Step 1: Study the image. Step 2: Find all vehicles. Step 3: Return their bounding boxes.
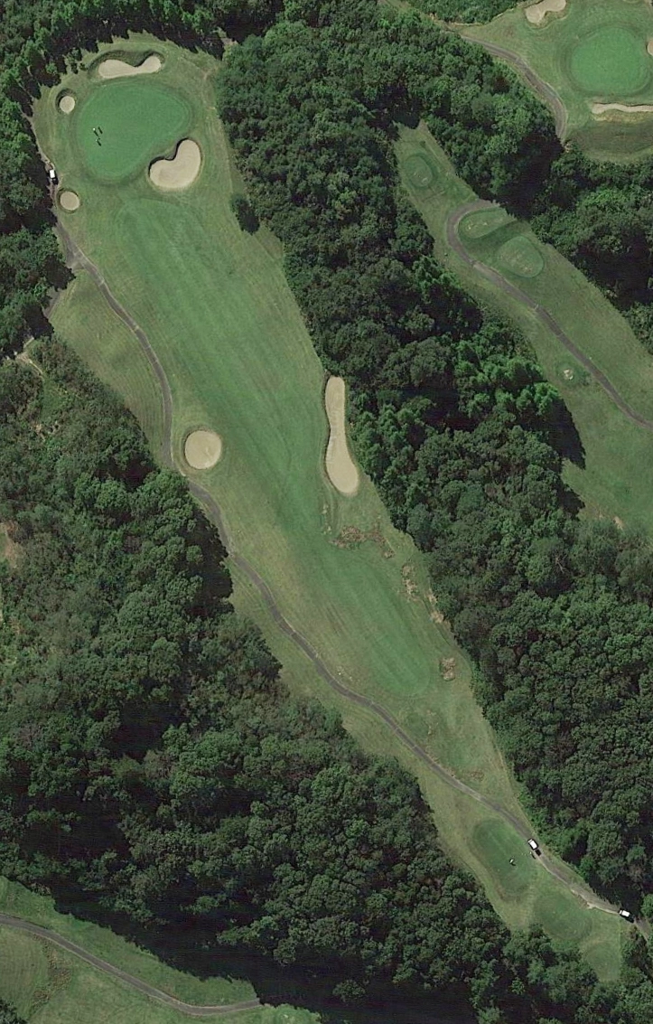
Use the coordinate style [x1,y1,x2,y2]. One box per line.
[50,170,56,180]
[620,909,631,917]
[529,839,538,850]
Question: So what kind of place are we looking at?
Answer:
golf course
